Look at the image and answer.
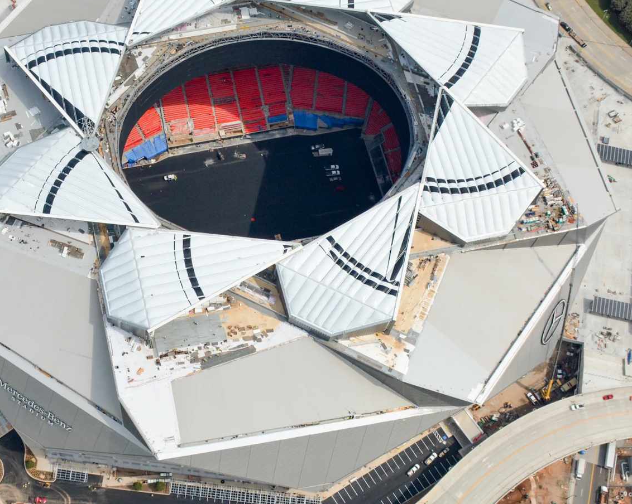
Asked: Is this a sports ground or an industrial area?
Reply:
sports ground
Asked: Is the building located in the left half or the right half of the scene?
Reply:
right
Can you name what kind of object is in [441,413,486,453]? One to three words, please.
building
